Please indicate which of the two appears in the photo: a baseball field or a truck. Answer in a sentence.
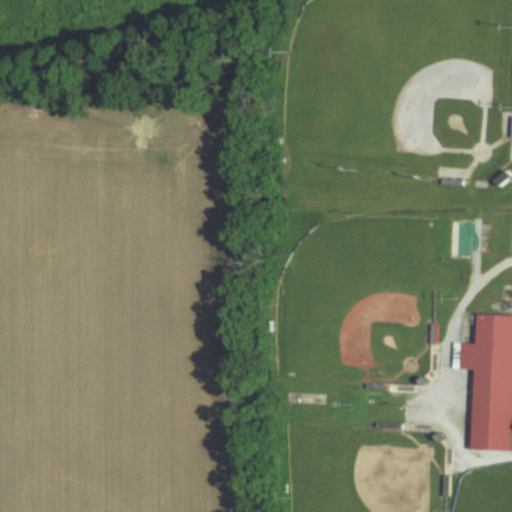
The image shows a baseball field.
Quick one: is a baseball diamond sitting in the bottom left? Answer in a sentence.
No, the scene shows no baseball diamond in the bottom left.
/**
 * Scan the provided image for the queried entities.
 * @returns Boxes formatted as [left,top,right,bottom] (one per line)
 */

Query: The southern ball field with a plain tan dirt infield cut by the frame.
[288,418,444,512]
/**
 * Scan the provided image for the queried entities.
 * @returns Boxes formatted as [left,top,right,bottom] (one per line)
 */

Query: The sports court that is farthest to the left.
[452,220,479,258]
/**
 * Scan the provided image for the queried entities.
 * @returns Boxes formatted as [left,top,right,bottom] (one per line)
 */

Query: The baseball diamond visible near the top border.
[284,0,512,180]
